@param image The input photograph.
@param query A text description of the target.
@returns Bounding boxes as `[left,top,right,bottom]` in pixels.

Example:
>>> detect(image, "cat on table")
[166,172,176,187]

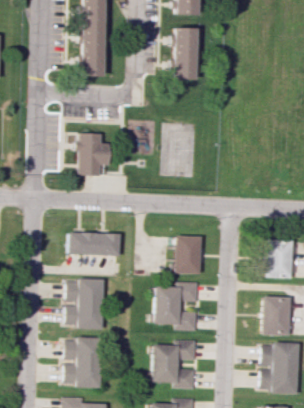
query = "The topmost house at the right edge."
[264,241,293,279]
